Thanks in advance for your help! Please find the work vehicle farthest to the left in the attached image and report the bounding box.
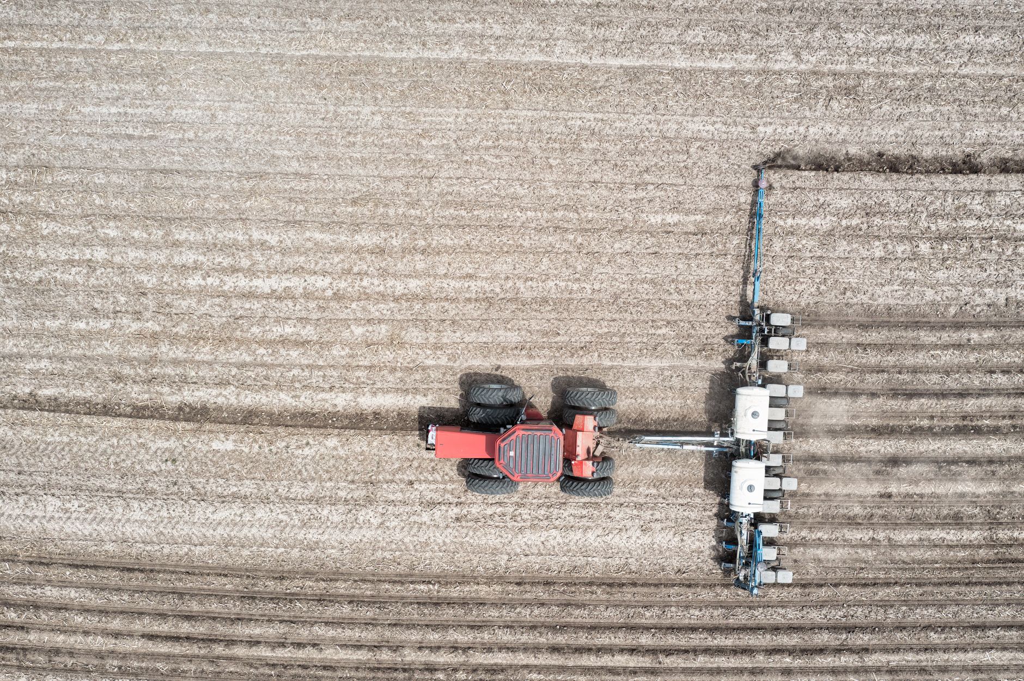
[425,383,630,496]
